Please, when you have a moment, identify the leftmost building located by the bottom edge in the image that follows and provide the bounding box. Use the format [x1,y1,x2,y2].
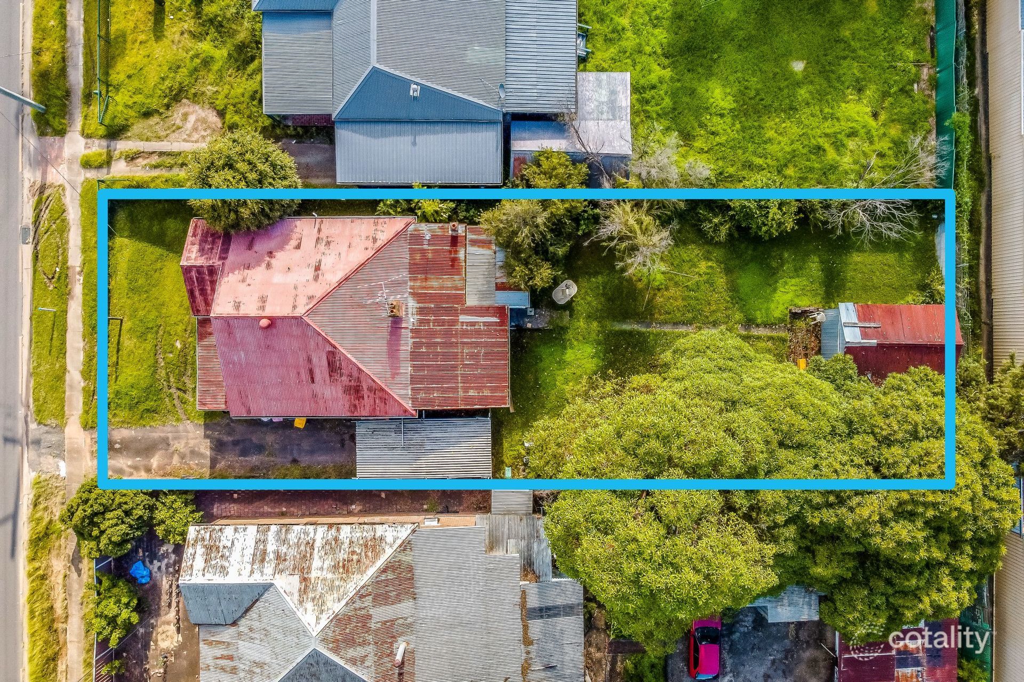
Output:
[178,523,523,682]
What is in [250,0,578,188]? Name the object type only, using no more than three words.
house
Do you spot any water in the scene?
No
